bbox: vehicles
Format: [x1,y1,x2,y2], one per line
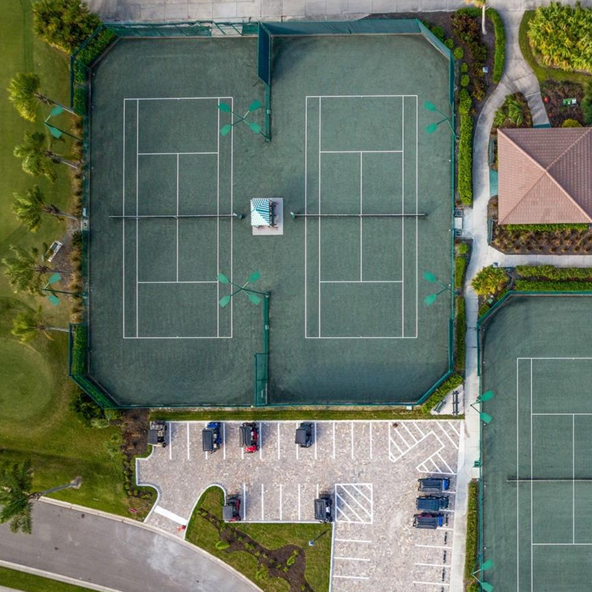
[202,420,222,454]
[146,417,167,448]
[222,494,241,522]
[417,495,450,512]
[239,420,258,453]
[314,492,332,522]
[295,421,313,448]
[418,477,450,492]
[413,514,446,530]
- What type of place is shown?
sports ground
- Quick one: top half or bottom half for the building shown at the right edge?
top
